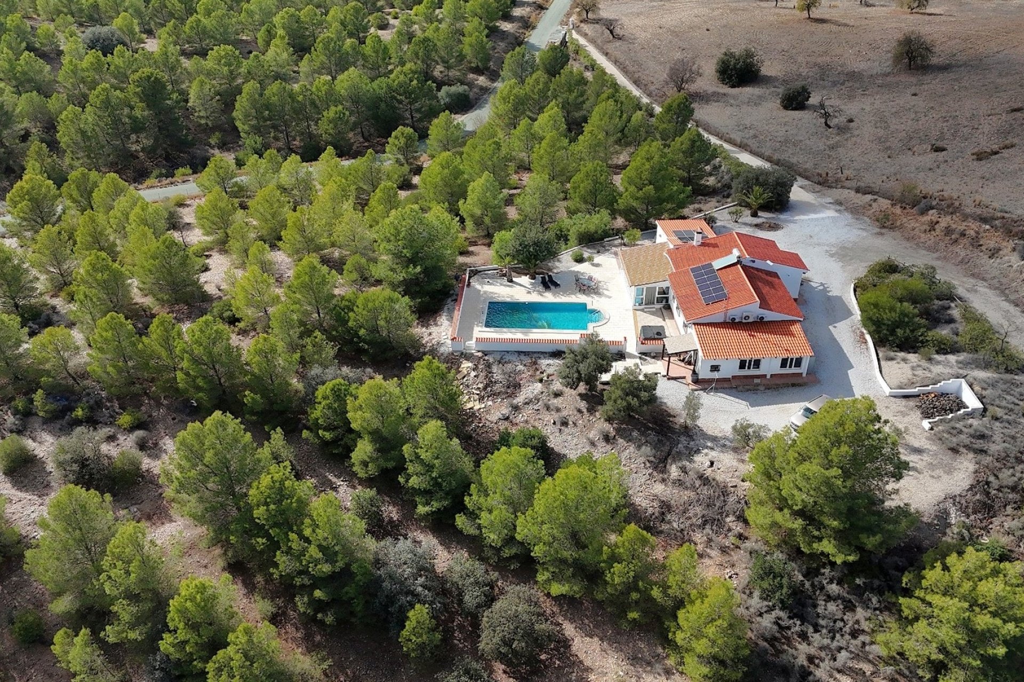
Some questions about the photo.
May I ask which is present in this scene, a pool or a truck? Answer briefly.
pool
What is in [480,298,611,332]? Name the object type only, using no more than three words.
swimming pool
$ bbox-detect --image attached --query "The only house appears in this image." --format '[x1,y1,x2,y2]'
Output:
[617,218,814,380]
